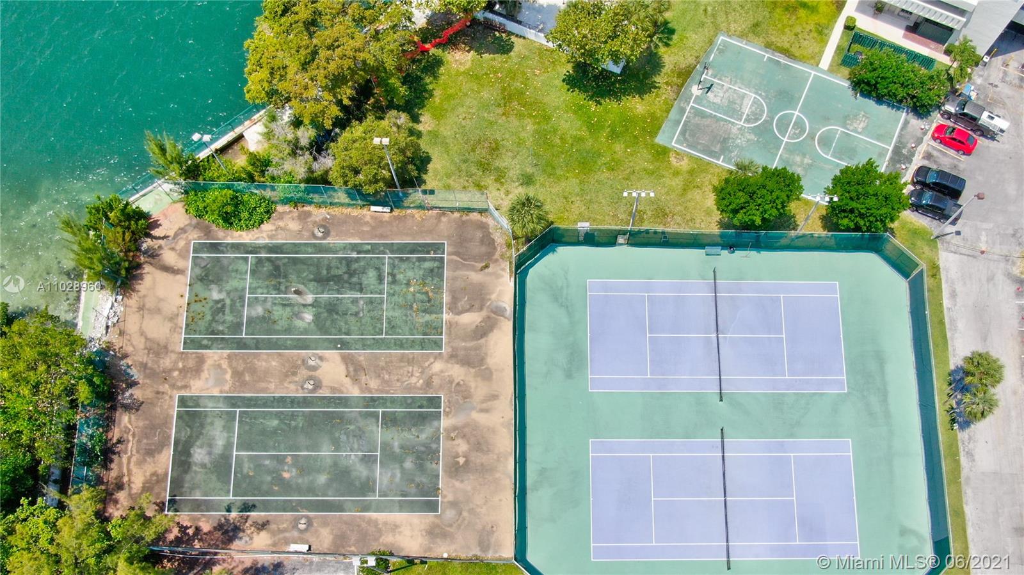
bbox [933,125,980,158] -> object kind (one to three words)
car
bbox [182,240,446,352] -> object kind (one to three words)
tennis court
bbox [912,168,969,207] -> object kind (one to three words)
car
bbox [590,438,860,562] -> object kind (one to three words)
tennis court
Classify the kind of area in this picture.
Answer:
sports ground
